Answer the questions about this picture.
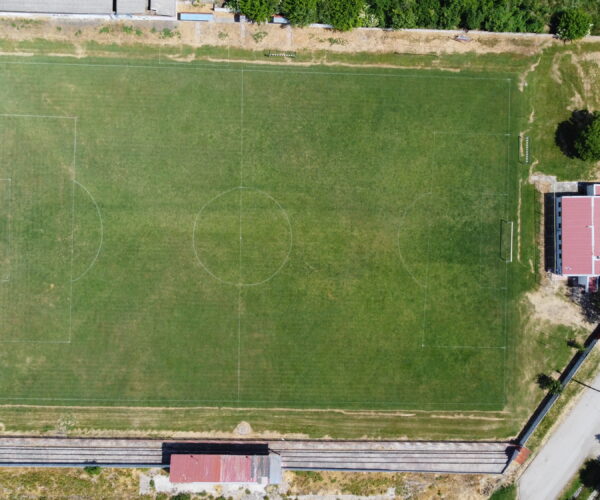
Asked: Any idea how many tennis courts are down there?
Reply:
0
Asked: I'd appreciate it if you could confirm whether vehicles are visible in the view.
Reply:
No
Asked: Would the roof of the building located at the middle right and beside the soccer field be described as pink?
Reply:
Yes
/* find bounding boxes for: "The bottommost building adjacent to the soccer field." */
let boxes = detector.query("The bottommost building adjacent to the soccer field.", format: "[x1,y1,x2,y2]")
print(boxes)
[554,194,600,292]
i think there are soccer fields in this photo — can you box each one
[0,61,513,407]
